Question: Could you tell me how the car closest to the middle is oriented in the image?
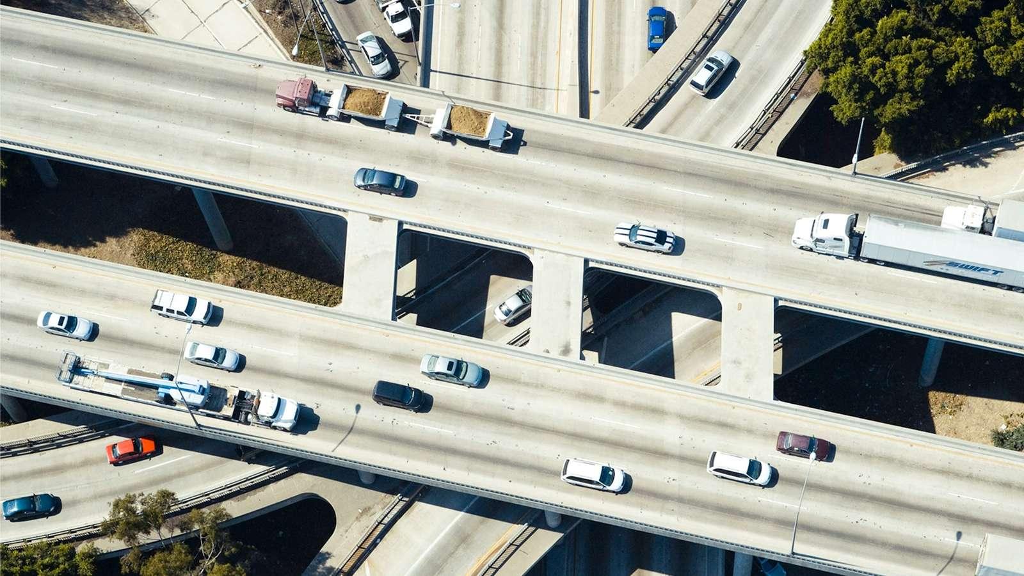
on a diagonal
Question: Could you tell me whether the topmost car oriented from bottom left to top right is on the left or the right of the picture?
right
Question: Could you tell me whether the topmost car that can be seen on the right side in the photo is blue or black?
blue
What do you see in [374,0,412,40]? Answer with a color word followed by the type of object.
white truck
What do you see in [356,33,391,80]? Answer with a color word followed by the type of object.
white car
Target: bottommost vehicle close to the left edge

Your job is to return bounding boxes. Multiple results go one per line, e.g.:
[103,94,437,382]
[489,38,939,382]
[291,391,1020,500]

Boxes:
[2,494,58,523]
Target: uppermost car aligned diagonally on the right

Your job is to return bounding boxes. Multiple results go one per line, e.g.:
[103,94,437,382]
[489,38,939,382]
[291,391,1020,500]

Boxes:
[689,53,734,98]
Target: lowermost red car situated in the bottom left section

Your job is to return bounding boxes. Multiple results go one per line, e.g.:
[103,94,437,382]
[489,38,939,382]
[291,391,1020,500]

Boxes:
[105,437,159,467]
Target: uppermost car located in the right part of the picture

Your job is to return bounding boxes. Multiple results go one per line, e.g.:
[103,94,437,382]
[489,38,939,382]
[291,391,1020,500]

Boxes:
[646,8,667,53]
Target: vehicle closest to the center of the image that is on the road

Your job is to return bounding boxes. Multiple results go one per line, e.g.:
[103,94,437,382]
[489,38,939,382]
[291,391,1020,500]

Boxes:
[491,284,533,329]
